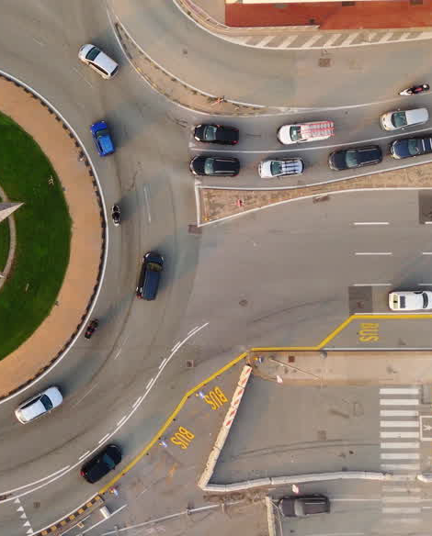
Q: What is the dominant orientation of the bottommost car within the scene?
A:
from side to side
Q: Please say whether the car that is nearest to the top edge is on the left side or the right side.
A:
left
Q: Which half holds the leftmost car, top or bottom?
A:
bottom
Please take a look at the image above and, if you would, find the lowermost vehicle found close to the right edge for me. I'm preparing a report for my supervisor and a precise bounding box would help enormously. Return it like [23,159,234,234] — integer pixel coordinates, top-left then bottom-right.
[386,288,432,312]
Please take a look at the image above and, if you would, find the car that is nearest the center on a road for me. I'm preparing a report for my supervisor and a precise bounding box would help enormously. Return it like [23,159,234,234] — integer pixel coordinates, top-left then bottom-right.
[134,250,163,302]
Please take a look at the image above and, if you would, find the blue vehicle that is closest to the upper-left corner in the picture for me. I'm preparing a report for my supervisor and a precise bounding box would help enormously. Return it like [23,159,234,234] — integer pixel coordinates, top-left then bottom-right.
[88,121,114,157]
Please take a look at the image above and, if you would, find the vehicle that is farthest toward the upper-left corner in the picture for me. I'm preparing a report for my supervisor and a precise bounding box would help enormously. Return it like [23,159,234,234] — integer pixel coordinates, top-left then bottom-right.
[77,42,119,81]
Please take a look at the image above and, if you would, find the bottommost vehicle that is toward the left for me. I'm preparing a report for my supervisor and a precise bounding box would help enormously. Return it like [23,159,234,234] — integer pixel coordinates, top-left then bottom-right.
[76,444,123,482]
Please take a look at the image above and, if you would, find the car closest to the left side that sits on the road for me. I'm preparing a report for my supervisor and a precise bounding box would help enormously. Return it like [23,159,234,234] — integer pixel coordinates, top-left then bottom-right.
[13,387,63,424]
